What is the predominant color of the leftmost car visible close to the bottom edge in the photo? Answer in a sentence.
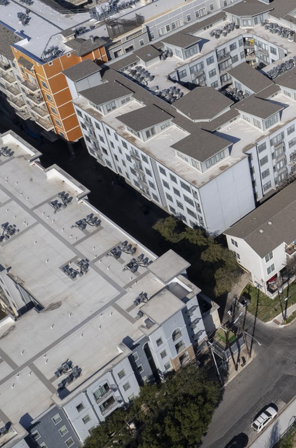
The color of the leftmost car visible close to the bottom edge is black.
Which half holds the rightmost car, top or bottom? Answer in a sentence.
Seen from above, the rightmost car lies in the bottom half of the view.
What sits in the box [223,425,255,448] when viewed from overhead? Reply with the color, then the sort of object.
black car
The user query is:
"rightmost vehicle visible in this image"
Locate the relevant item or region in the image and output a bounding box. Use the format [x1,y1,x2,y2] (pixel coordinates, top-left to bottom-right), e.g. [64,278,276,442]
[248,400,284,439]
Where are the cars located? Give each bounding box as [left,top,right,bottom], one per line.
[248,400,284,439]
[223,425,255,448]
